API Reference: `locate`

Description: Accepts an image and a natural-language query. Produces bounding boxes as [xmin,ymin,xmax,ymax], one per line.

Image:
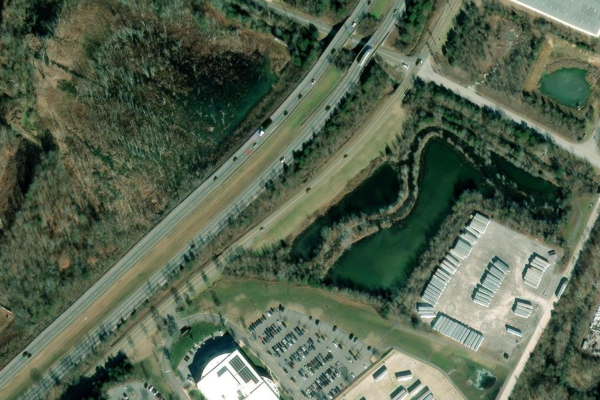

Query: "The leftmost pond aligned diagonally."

[181,53,279,166]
